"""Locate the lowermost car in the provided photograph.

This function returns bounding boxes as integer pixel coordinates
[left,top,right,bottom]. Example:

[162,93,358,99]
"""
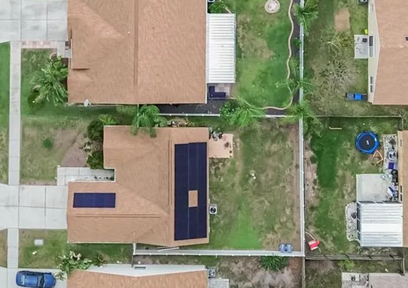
[15,271,56,288]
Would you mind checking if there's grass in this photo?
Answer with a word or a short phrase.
Yes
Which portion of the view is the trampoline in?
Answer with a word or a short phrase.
right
